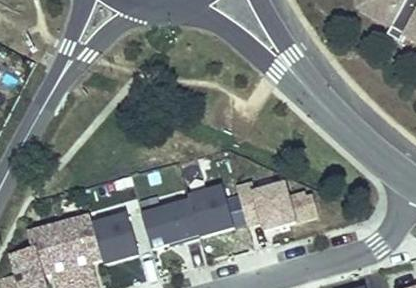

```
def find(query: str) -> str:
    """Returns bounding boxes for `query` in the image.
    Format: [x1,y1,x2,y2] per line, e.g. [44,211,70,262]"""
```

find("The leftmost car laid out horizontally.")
[216,265,238,277]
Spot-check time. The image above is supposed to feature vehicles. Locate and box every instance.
[254,230,266,248]
[190,244,202,267]
[394,277,414,288]
[216,265,238,277]
[284,247,306,259]
[389,254,410,266]
[330,235,352,246]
